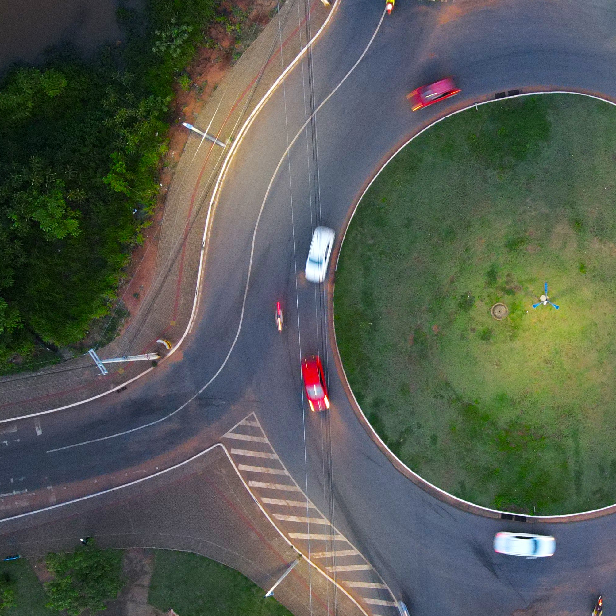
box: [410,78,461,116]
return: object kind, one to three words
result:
car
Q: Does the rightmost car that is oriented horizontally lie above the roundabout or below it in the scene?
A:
below it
